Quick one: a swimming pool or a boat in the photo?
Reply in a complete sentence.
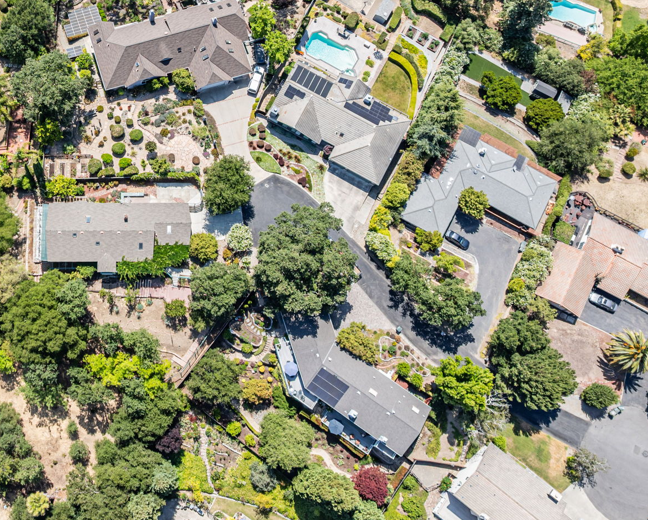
This aerial view contains a swimming pool.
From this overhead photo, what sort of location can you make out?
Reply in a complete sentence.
The picture captures a residential area.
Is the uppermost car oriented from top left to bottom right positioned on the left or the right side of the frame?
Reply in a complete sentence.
You can find the uppermost car oriented from top left to bottom right on the right side of the picture.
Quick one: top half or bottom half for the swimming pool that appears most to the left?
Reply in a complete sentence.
The top half of the photo is where the swimming pool that appears most to the left is.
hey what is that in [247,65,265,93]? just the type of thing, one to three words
vehicle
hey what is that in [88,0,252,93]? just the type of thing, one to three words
house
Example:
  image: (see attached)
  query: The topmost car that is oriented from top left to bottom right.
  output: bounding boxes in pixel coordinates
[446,229,472,250]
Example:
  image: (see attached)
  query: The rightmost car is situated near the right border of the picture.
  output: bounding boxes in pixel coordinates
[590,292,620,313]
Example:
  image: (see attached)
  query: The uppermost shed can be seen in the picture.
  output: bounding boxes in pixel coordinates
[372,0,395,23]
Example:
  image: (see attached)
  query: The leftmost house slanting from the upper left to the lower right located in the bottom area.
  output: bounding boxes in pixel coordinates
[281,311,431,457]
